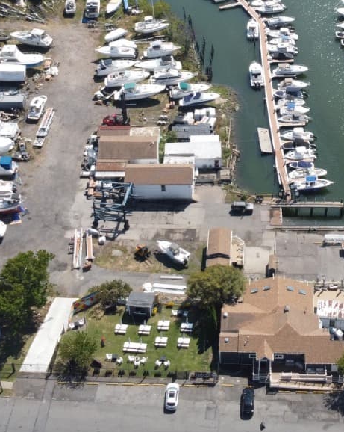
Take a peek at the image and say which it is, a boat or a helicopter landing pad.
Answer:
boat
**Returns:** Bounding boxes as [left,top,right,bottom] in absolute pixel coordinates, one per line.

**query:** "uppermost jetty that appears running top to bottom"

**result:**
[219,0,313,201]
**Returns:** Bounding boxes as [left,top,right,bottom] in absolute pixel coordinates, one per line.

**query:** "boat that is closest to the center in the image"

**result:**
[159,241,195,271]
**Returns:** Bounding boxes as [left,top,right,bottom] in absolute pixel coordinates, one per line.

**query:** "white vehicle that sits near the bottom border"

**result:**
[163,383,180,412]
